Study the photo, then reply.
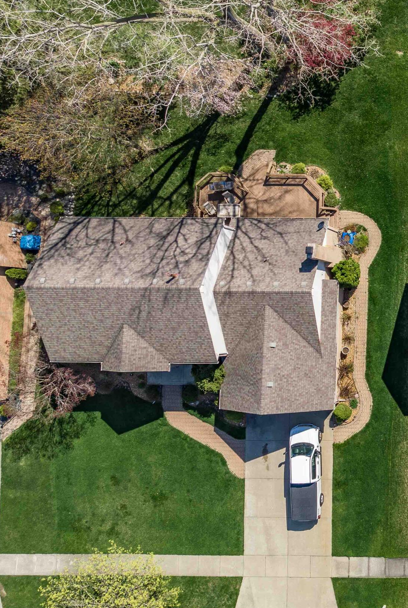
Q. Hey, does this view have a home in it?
Yes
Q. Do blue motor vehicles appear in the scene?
No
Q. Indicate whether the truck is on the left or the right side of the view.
right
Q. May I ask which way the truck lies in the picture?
up and down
